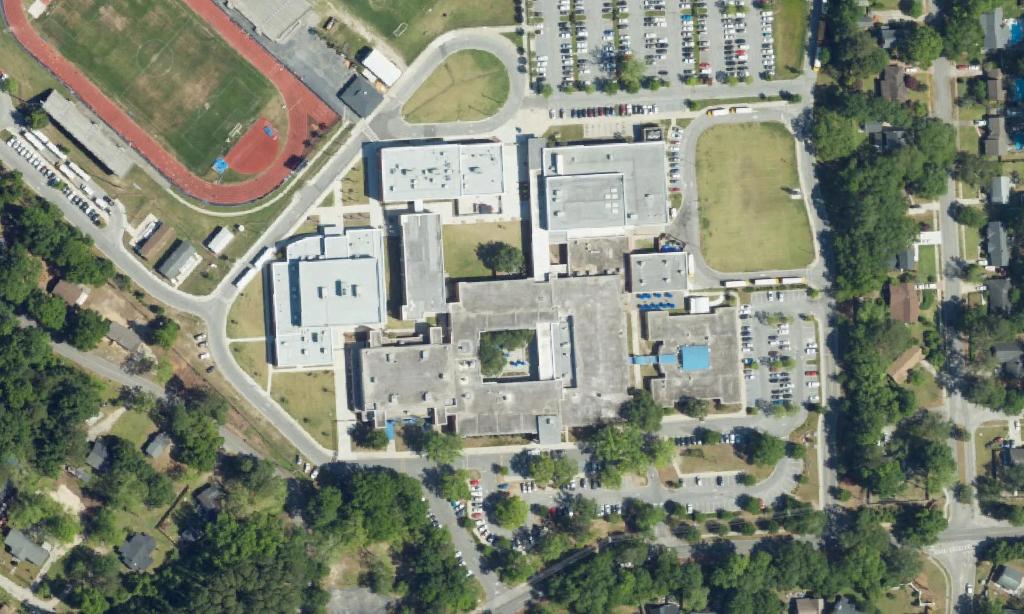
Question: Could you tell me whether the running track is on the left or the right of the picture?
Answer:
left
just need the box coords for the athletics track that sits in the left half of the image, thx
[1,0,308,203]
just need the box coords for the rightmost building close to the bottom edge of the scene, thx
[997,567,1023,590]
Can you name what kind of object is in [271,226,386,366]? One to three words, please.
building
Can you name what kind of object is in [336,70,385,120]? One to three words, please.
building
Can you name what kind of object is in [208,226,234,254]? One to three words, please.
shed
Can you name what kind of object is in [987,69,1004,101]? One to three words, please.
house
